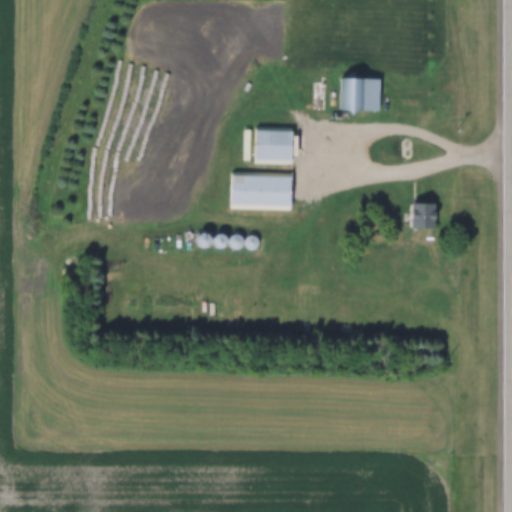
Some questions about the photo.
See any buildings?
Yes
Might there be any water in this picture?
No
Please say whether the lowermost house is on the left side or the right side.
right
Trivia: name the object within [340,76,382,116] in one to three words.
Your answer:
barn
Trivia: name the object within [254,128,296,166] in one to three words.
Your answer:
shed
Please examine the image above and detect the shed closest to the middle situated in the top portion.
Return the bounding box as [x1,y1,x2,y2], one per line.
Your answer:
[232,172,294,212]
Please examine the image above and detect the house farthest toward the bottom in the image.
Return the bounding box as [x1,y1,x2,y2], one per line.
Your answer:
[404,202,438,232]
